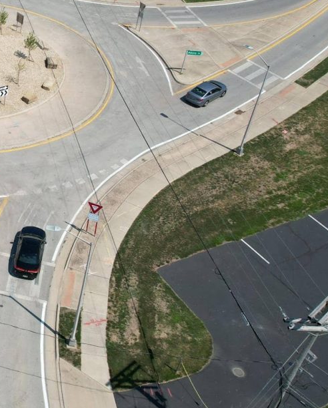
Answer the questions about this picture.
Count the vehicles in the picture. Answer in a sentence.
Altogether the scene contains 2 vehicles.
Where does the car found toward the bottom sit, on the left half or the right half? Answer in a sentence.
You can find the car found toward the bottom on the left side of the picture.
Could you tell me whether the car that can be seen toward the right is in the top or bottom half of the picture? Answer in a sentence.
It is in the top half that the car that can be seen toward the right appears.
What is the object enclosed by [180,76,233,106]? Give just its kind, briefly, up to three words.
car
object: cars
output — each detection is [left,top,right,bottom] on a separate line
[9,220,50,283]
[180,76,233,106]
